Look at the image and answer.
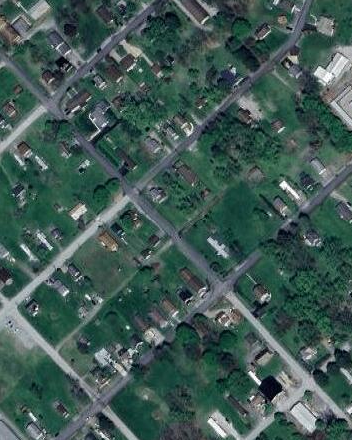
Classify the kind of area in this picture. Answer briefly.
residential area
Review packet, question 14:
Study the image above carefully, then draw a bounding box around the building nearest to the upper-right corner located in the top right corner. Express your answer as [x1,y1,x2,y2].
[315,17,337,35]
